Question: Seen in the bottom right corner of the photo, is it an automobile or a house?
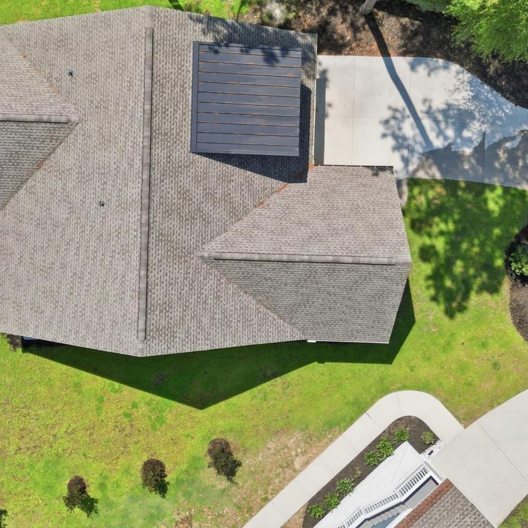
house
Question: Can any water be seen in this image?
No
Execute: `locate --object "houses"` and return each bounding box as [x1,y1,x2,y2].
[314,441,490,528]
[0,5,411,357]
